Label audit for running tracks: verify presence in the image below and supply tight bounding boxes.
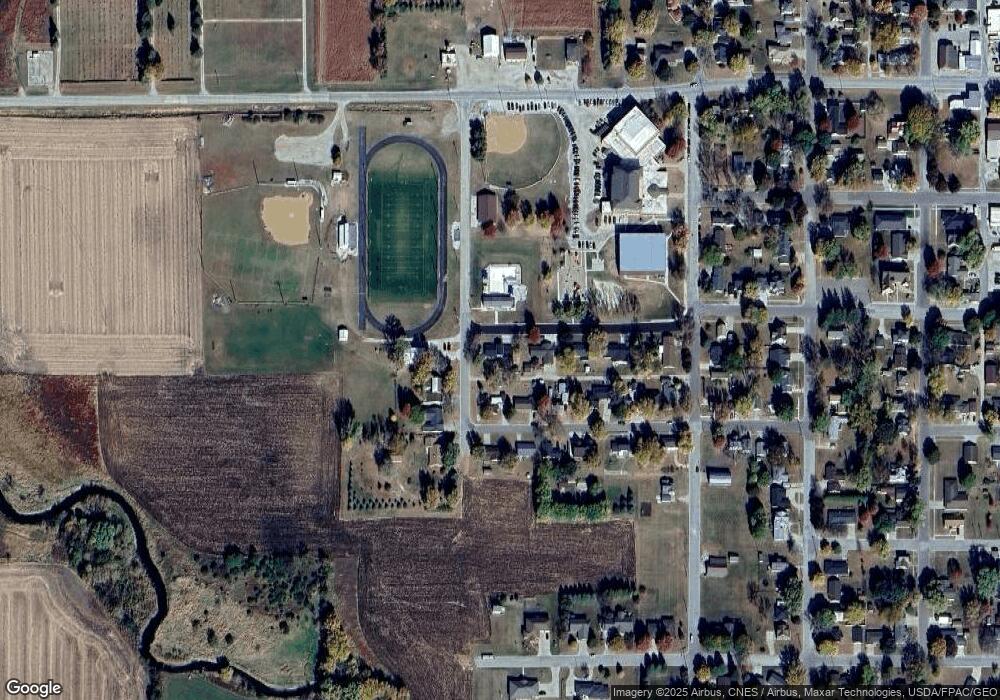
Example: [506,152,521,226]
[359,127,447,339]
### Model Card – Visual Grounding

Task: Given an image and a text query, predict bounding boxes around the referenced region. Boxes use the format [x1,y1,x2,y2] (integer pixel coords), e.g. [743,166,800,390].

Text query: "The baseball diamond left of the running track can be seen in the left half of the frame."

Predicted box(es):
[261,190,314,246]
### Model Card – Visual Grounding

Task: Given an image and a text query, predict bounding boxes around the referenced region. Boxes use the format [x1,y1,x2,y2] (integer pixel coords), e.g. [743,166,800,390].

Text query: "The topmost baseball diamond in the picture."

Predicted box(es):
[485,112,562,188]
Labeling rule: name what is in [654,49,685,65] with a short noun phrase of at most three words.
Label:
house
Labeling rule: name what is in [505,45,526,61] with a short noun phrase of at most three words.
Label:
building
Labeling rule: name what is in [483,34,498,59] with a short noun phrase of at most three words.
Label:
barn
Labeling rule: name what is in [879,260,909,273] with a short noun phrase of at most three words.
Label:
house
